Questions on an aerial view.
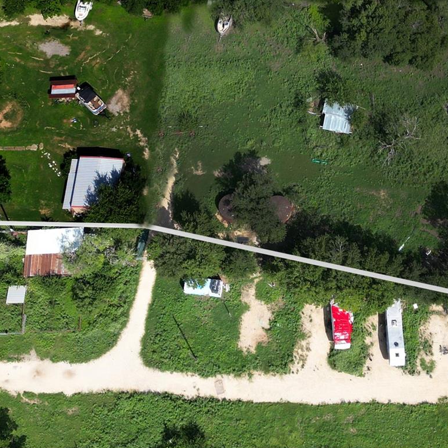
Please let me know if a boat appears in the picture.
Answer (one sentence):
Yes, the frame does contain a boat.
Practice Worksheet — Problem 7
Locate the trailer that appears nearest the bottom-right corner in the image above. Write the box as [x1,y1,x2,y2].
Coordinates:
[384,302,406,377]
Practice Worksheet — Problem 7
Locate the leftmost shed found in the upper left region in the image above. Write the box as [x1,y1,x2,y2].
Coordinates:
[50,79,79,99]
